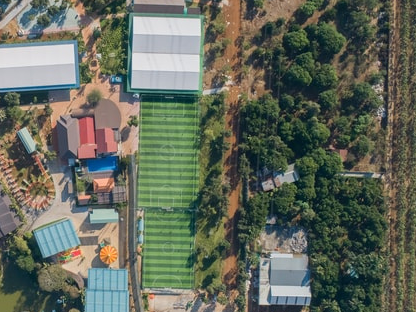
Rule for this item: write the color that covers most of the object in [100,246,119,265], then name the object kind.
orange umbrella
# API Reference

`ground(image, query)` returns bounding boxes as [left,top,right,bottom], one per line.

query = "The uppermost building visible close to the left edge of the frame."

[0,41,79,93]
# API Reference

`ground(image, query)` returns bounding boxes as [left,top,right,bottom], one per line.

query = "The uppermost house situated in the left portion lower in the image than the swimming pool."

[93,178,115,194]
